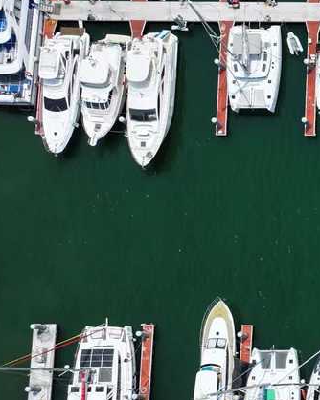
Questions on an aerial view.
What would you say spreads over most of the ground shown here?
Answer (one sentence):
The scene is dominated by water.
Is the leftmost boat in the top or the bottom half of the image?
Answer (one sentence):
The top half of the photo is where the leftmost boat is.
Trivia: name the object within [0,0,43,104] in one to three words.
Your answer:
boat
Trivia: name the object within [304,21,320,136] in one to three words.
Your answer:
pier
